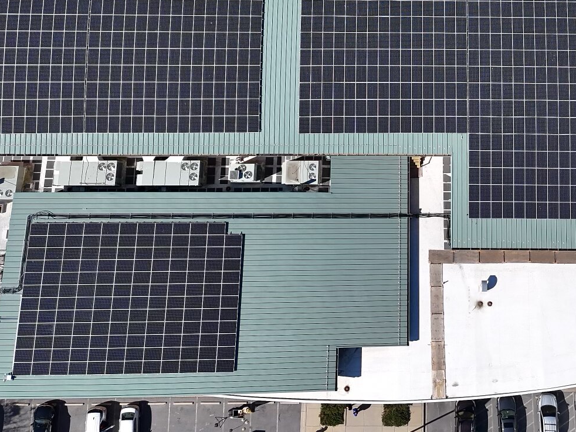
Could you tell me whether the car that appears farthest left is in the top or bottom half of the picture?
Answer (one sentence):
The car that appears farthest left sits in the bottom half of the picture.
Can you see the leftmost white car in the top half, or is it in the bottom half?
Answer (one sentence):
The bottom half of the photo is where the leftmost white car is.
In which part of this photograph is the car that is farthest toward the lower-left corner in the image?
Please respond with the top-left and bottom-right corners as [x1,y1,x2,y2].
[30,404,57,432]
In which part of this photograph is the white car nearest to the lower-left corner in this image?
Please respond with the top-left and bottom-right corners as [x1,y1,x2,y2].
[81,407,112,432]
